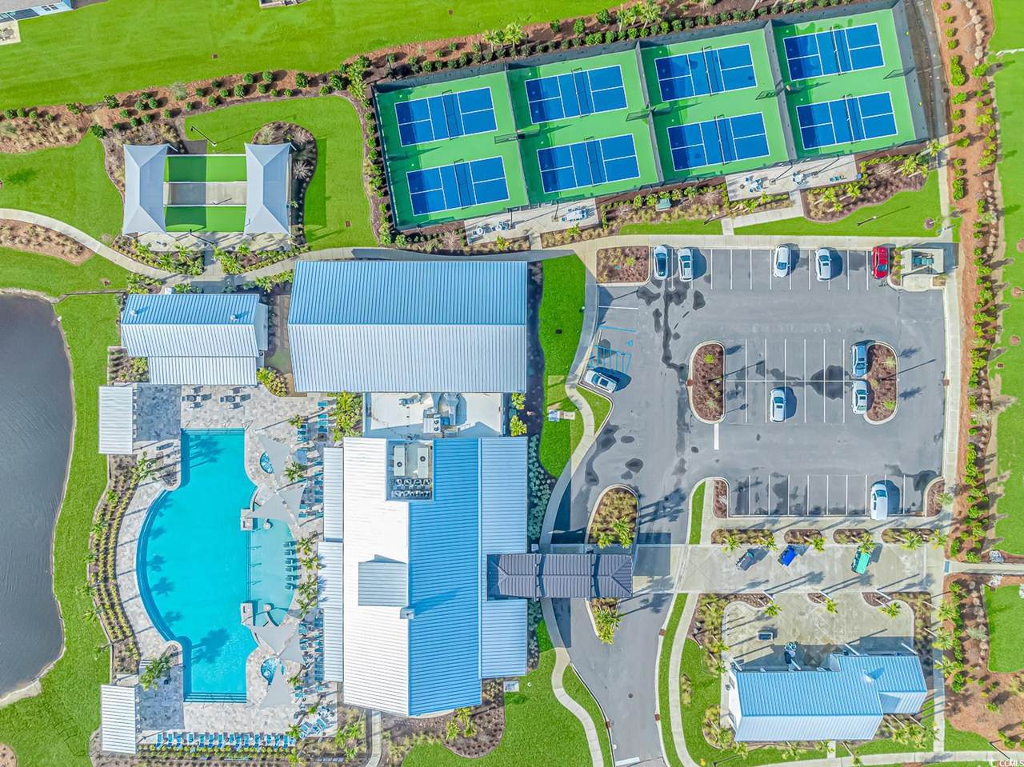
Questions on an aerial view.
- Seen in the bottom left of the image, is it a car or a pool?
pool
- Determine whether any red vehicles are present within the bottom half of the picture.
No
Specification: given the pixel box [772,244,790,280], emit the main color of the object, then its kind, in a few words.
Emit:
white car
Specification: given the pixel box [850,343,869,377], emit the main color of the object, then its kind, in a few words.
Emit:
blue car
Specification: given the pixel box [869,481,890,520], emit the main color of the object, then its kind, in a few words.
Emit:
white car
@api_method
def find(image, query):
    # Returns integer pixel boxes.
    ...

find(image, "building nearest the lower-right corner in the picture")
[729,647,926,740]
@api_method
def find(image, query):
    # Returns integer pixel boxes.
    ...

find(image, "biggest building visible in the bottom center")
[318,436,526,716]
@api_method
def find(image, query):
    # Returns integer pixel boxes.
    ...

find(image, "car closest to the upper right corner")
[871,245,890,280]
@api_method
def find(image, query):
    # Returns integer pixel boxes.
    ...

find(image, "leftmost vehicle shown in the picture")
[582,370,618,394]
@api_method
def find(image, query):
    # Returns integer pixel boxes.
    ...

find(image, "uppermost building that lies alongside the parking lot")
[288,260,527,393]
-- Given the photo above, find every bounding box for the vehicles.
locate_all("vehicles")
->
[850,379,870,414]
[871,245,890,280]
[734,548,754,569]
[677,247,695,283]
[768,387,787,422]
[582,370,618,394]
[850,343,869,377]
[772,244,790,280]
[814,248,833,282]
[652,245,669,280]
[869,481,890,520]
[848,548,868,570]
[775,544,796,565]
